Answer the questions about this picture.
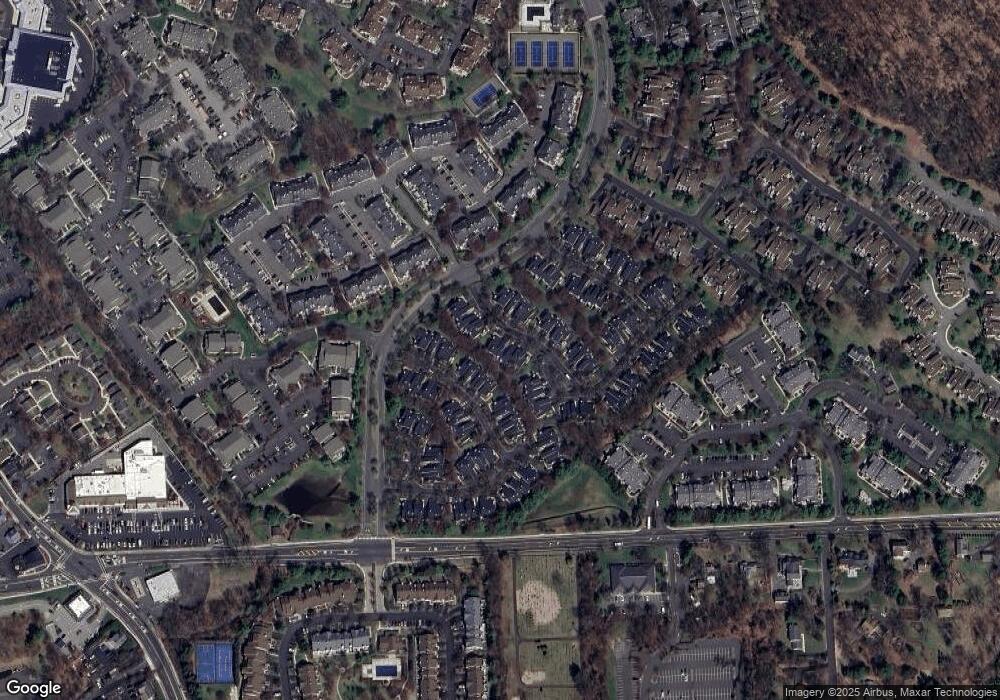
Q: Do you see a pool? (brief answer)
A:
Yes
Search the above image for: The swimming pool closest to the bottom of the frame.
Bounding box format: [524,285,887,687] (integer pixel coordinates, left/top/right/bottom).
[362,657,400,679]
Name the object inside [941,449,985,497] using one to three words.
building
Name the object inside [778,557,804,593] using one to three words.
house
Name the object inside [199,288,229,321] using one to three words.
swimming pool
